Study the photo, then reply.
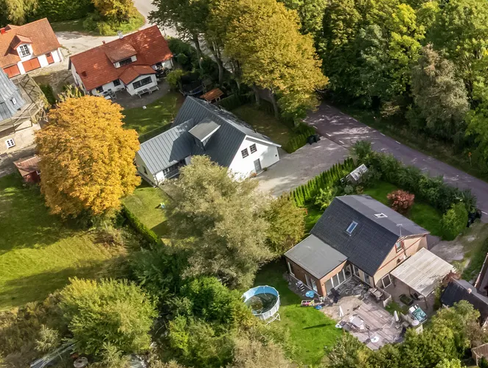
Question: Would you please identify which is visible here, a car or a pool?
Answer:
pool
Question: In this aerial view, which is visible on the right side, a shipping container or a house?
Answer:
house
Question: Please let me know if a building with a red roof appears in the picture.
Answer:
Yes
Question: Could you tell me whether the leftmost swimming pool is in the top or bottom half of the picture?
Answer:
bottom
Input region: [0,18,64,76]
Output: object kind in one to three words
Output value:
house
